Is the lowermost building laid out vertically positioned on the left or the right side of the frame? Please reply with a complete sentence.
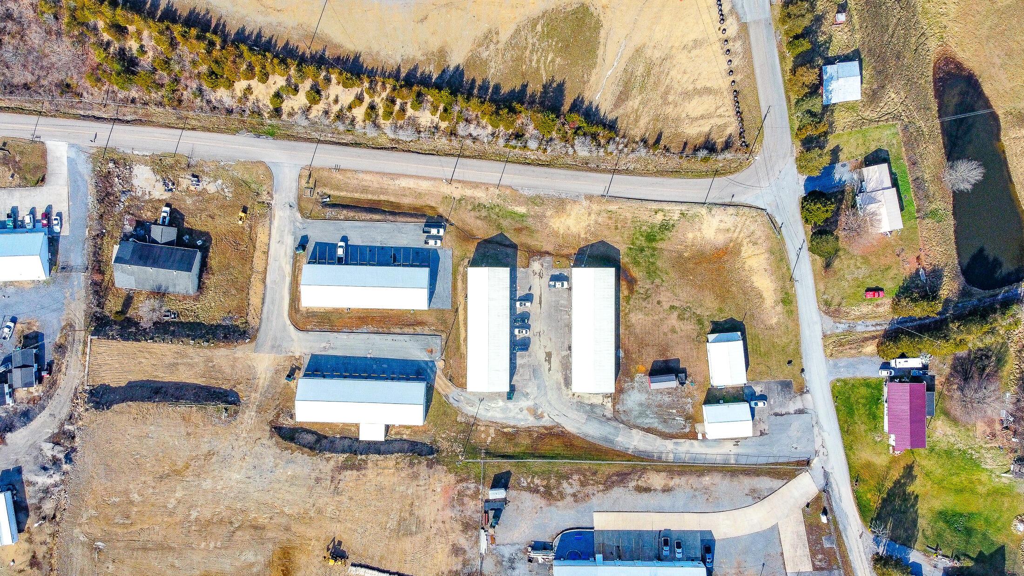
The lowermost building laid out vertically appears in the left half of the scene.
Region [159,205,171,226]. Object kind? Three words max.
vehicle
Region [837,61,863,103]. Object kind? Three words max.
barn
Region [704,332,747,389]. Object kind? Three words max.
building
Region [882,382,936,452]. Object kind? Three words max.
house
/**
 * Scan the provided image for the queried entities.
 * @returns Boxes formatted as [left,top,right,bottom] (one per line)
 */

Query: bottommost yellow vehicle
[321,554,351,567]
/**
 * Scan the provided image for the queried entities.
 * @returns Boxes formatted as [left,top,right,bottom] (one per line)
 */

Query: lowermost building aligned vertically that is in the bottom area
[0,487,28,546]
